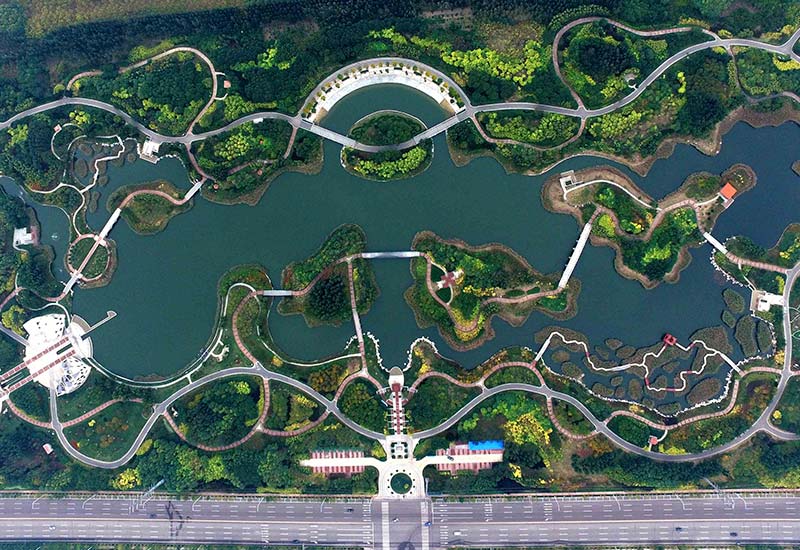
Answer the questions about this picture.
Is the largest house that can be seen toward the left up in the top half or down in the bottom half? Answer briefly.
top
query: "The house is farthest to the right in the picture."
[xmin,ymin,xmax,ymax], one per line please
[750,290,784,311]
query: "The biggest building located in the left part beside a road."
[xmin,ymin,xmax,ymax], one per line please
[140,141,162,164]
